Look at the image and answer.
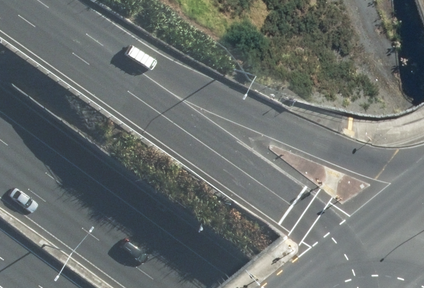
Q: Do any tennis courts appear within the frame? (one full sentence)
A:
No, this view has no tennis court in it.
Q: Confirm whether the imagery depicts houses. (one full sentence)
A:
No, I can see no house in this picture.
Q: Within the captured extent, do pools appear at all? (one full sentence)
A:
No, no pool is visible in the scene.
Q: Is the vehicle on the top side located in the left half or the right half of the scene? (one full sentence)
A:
The vehicle on the top side is on the left side of the image.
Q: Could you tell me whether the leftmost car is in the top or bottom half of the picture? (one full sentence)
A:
You can find the leftmost car in the bottom half.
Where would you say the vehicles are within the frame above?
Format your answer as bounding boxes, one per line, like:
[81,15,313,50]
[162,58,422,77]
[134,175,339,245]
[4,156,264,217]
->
[120,237,149,262]
[124,44,157,70]
[8,187,38,212]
